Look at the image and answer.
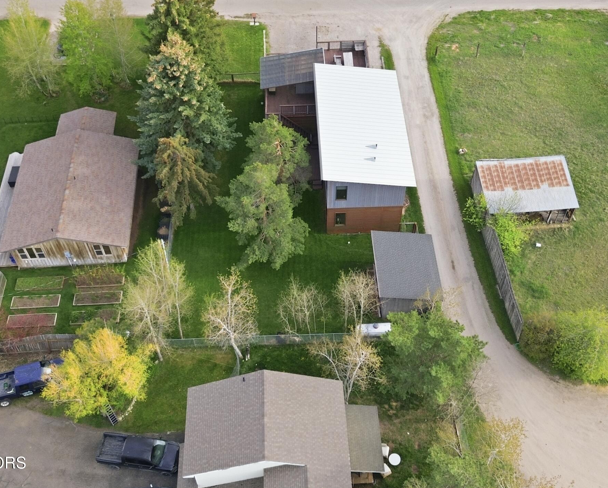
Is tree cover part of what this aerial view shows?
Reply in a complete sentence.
Yes, there is tree cover in the image.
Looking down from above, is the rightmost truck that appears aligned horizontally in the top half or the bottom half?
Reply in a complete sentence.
The rightmost truck that appears aligned horizontally sits in the bottom half of the picture.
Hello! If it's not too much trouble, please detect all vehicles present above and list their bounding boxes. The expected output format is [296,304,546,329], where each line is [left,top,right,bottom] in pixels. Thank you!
[0,358,66,403]
[96,434,184,477]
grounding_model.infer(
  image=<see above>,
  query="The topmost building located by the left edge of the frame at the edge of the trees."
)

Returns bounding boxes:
[0,107,140,274]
